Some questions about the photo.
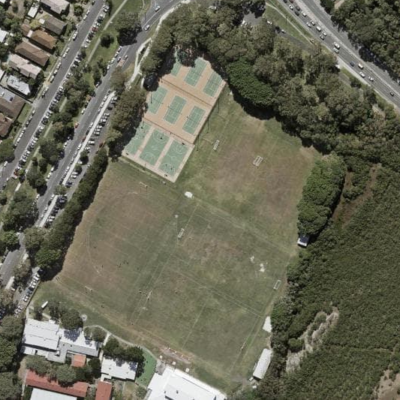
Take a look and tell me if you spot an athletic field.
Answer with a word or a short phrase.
Yes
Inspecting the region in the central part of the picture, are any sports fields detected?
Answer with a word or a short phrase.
Yes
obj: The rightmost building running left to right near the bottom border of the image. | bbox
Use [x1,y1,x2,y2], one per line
[148,366,226,400]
